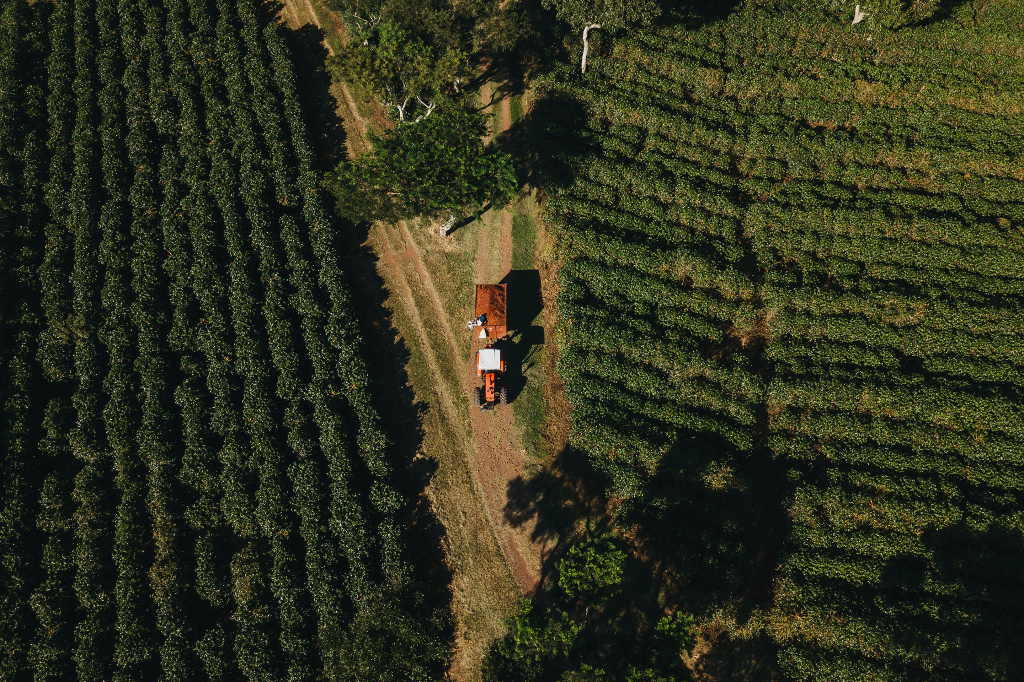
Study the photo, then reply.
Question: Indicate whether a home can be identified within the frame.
No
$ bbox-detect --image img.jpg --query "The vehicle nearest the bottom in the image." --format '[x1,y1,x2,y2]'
[474,349,507,411]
